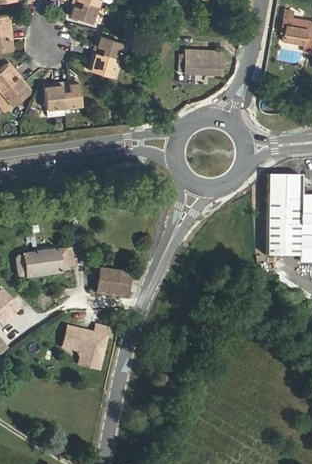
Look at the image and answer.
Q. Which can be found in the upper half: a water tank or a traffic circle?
traffic circle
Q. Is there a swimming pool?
Yes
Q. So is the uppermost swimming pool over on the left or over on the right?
right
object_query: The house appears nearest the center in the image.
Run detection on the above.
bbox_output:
[97,268,132,298]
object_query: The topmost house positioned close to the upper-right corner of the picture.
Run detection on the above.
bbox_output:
[284,10,312,53]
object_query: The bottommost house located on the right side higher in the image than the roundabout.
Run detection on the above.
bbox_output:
[179,50,224,78]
